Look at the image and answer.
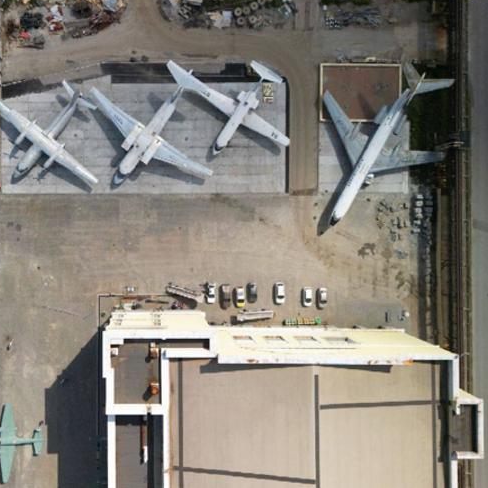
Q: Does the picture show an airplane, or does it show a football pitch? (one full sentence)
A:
Looking from above, you can make out an airplane.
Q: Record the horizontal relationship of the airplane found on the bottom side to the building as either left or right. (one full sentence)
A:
The building has the airplane found on the bottom side on its left side.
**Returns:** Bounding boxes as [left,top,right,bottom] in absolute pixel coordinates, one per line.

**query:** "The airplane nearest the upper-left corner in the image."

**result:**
[0,77,101,183]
